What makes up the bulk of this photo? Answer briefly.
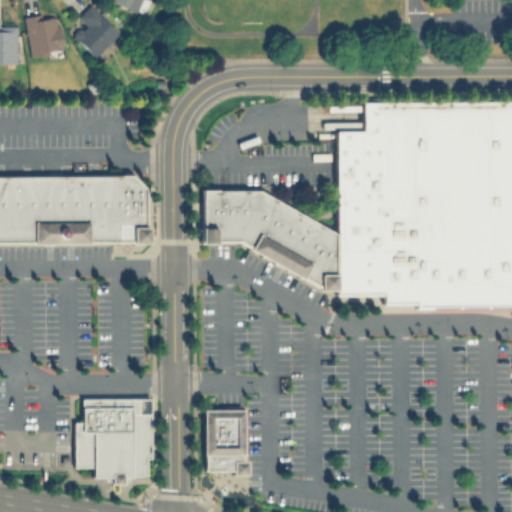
paved ground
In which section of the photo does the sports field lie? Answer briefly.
top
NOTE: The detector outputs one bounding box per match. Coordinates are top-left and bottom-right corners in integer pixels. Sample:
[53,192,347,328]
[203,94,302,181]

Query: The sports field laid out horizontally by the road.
[176,0,404,51]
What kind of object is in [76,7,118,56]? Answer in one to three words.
house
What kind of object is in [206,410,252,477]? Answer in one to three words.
building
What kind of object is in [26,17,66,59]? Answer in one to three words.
house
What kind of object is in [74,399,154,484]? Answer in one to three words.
building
